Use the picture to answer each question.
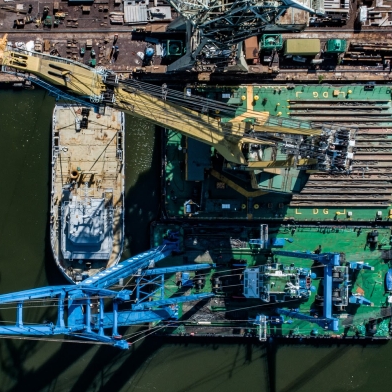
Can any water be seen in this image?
Yes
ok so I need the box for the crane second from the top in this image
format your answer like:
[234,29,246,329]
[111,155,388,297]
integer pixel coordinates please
[0,41,392,226]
